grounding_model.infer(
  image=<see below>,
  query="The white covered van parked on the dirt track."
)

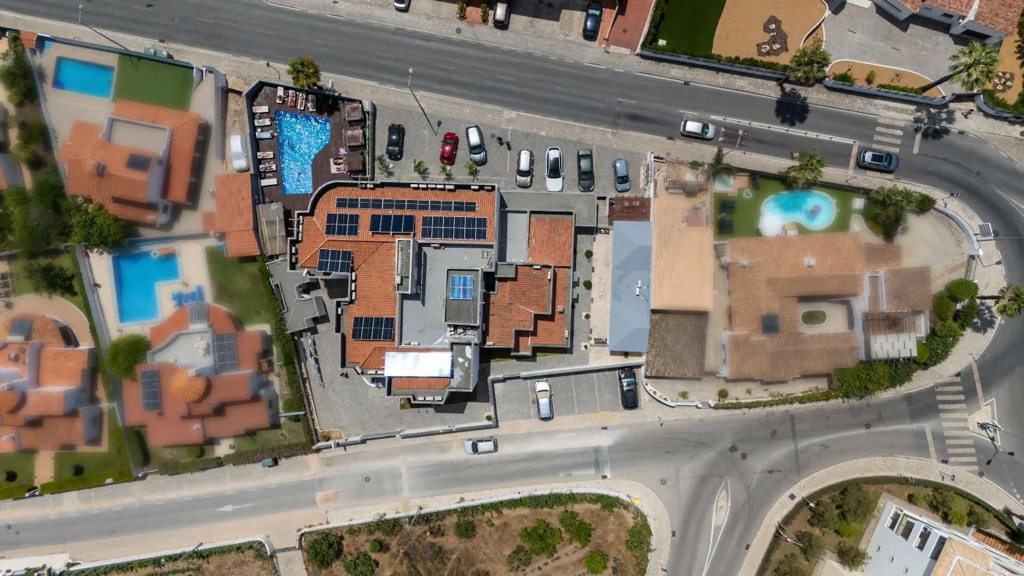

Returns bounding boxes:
[227,132,250,172]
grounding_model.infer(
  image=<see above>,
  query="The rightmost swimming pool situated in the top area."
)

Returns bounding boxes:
[759,187,841,233]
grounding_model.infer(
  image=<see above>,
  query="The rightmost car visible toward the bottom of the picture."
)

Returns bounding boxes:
[618,368,639,410]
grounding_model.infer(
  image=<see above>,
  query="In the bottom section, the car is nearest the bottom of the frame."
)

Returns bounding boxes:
[464,436,498,456]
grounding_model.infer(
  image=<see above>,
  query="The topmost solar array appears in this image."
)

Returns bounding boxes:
[127,154,152,171]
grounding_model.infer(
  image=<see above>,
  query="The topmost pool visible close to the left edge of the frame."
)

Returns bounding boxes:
[49,54,116,99]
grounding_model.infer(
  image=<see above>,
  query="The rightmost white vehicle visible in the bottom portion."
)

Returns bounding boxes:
[533,379,553,421]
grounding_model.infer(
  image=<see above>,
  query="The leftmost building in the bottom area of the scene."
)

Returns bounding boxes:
[0,312,117,452]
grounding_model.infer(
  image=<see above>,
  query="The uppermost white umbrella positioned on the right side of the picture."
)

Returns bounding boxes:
[757,212,782,237]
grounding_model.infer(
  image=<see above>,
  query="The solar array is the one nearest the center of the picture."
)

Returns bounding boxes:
[450,275,474,300]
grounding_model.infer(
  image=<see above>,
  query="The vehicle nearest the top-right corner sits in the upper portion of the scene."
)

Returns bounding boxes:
[856,150,899,171]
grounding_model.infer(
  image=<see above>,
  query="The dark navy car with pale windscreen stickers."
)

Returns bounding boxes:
[582,0,603,43]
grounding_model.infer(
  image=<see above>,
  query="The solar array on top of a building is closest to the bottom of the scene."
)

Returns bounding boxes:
[141,370,161,411]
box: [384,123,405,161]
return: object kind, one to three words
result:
car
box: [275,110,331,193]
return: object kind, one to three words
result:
swimming pool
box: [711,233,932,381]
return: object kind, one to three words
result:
house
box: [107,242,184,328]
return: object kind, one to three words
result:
swimming pool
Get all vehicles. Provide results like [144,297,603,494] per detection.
[856,150,899,171]
[227,132,250,172]
[679,120,715,140]
[618,368,639,410]
[464,436,498,456]
[576,149,596,191]
[582,0,603,43]
[384,123,405,161]
[533,379,553,421]
[440,132,459,166]
[544,147,566,191]
[466,125,487,165]
[612,158,633,192]
[515,149,536,188]
[492,0,513,33]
